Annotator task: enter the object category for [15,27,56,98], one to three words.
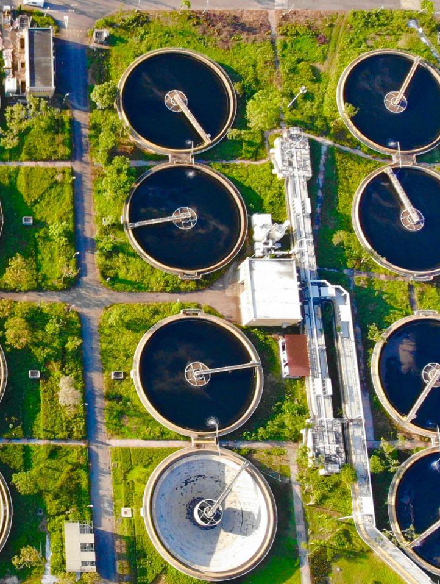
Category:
building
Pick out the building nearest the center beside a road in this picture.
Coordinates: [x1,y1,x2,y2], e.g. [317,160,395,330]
[235,258,304,328]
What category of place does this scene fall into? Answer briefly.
industrial area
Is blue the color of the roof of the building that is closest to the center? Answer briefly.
No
